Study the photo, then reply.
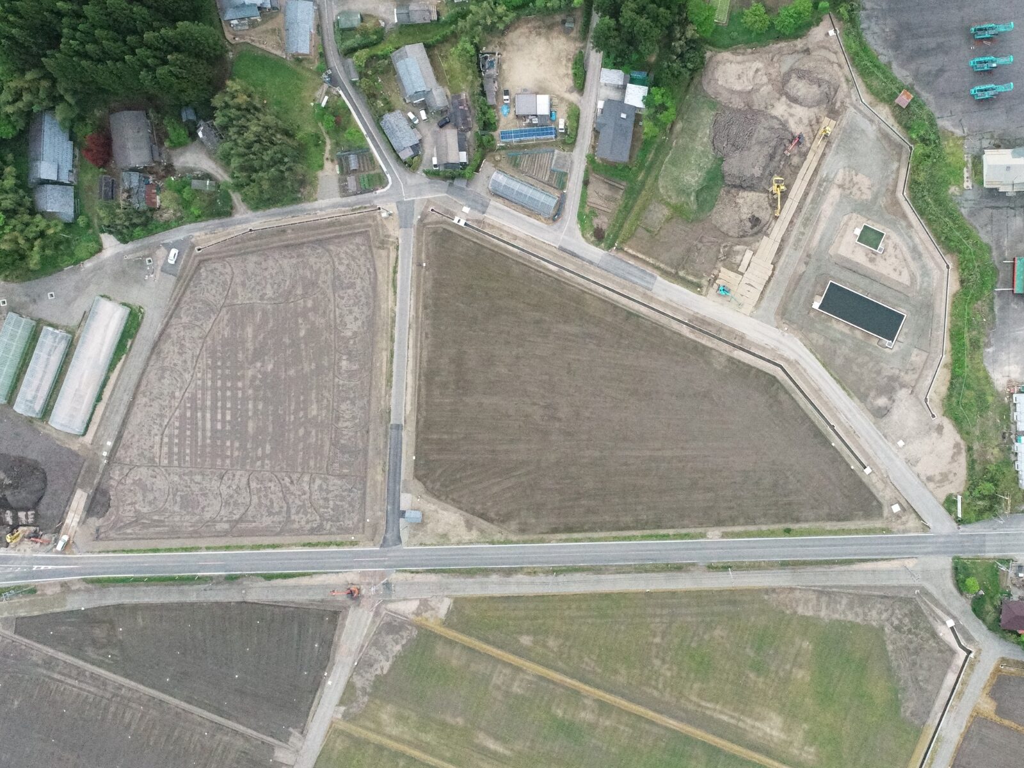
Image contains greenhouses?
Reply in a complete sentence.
Yes, the picture does show a greenhouse.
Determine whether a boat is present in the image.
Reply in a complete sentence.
No, this view has no boat in it.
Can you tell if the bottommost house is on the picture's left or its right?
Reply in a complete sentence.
The bottommost house is on the right side of the image.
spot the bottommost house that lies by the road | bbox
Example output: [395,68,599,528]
[991,597,1024,634]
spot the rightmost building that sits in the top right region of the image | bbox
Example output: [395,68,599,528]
[973,149,1024,197]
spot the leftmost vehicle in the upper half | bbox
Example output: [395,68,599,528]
[166,247,178,264]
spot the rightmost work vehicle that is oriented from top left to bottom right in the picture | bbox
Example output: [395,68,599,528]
[718,285,739,303]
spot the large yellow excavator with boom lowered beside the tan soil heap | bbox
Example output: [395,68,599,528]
[770,176,789,216]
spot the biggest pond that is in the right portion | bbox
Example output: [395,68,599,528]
[818,279,907,347]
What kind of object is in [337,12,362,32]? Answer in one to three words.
shed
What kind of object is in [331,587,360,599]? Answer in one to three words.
vehicle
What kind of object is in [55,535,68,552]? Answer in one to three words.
vehicle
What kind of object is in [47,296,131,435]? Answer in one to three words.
greenhouse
